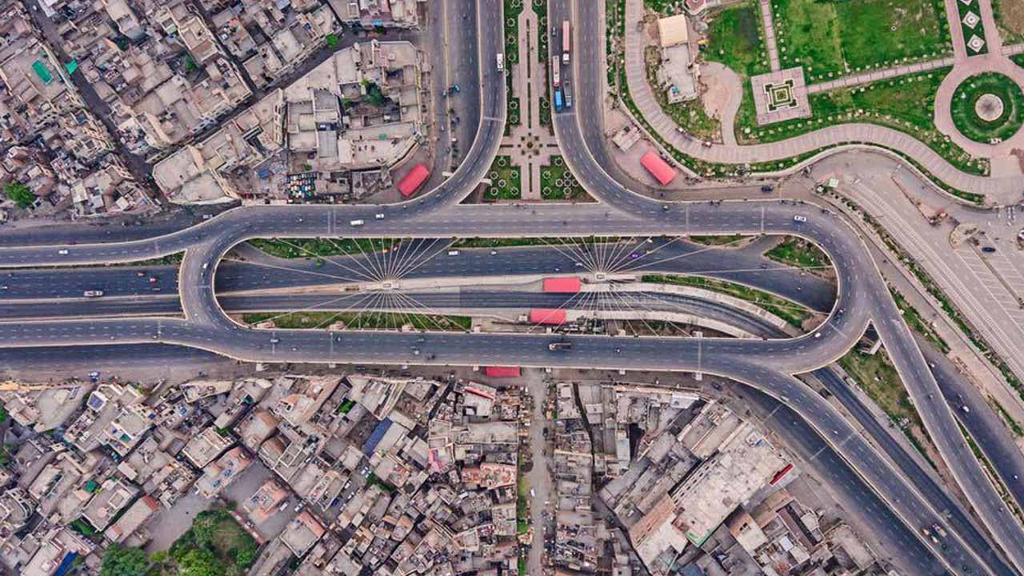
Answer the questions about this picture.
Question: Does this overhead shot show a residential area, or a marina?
residential area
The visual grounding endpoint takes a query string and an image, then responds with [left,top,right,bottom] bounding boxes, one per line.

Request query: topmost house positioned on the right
[655,14,689,52]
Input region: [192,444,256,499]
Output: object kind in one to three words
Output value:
house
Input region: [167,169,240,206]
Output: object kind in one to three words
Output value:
house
